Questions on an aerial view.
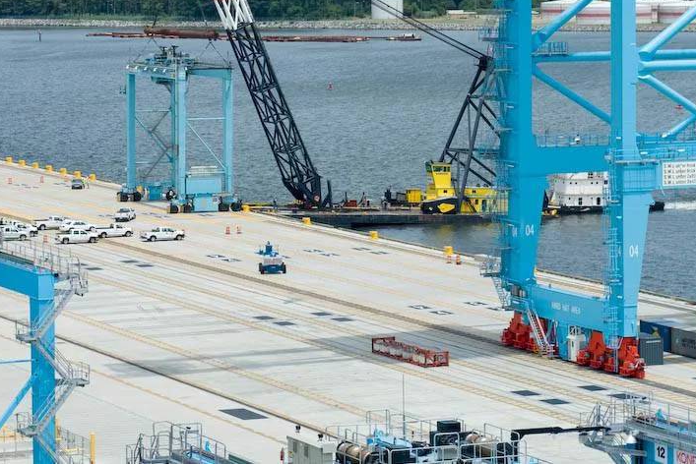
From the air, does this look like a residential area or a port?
port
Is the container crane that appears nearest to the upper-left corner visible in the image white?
No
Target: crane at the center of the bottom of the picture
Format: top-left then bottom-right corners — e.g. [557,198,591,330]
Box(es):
[148,332,650,464]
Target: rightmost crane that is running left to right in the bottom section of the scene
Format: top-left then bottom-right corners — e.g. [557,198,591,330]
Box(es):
[533,389,696,464]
